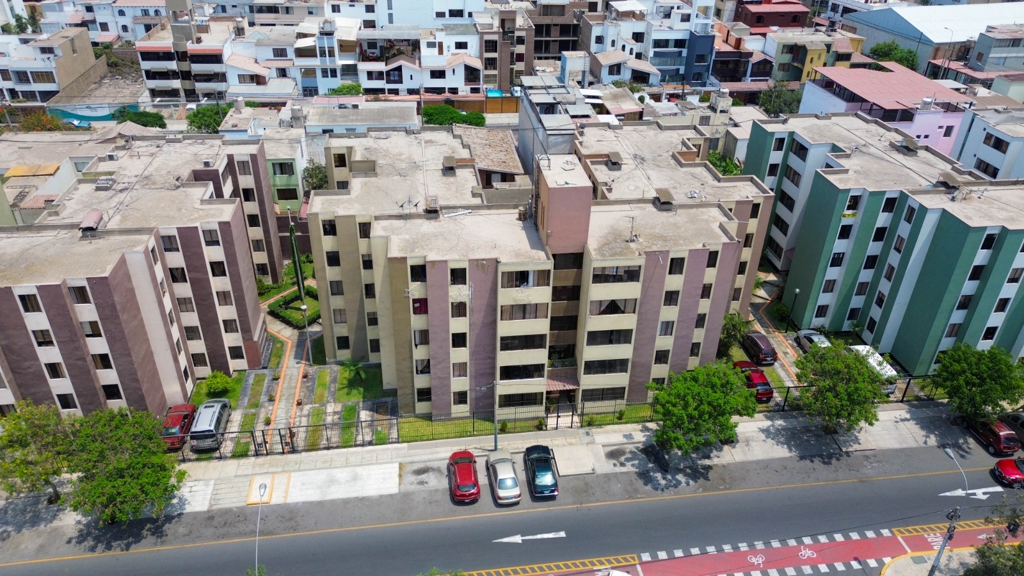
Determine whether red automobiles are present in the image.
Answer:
Yes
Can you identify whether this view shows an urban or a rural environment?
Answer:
urban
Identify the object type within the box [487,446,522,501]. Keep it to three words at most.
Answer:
car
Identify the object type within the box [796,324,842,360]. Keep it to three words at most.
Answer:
car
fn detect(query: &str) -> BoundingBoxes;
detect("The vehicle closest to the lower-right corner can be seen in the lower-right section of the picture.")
[987,452,1024,487]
